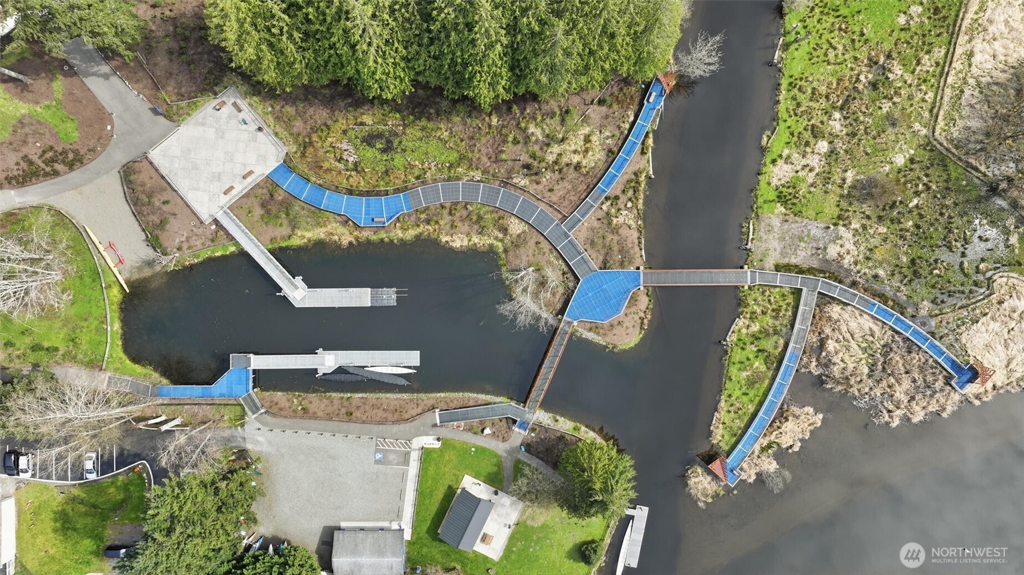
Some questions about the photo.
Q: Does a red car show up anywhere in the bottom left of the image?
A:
No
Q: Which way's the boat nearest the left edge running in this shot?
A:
diagonally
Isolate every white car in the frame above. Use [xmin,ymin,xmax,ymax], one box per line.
[18,451,35,478]
[82,451,97,478]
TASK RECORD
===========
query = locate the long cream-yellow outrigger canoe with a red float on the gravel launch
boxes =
[83,224,129,292]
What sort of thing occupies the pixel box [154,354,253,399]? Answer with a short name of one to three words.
pier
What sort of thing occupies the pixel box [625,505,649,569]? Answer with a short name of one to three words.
pier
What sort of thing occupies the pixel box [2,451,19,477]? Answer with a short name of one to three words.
car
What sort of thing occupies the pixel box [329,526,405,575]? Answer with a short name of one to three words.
building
